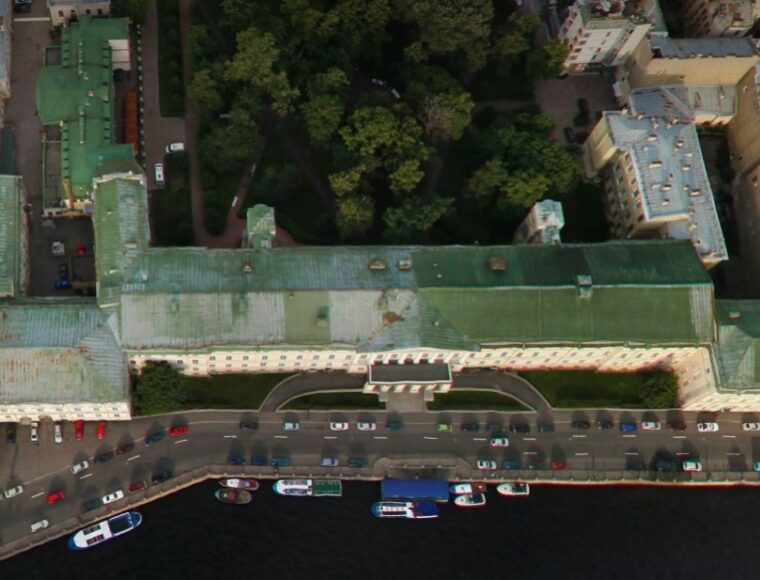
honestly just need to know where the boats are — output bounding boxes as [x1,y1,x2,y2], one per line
[453,494,487,506]
[70,513,142,550]
[370,502,438,519]
[450,484,485,495]
[215,489,252,504]
[273,480,342,497]
[219,480,259,491]
[496,484,530,495]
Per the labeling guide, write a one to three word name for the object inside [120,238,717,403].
building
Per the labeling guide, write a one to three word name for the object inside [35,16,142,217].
house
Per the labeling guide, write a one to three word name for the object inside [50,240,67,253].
vehicle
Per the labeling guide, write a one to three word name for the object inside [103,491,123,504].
vehicle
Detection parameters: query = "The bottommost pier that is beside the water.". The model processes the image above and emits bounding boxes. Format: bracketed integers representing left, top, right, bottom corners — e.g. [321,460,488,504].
[377,479,450,505]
